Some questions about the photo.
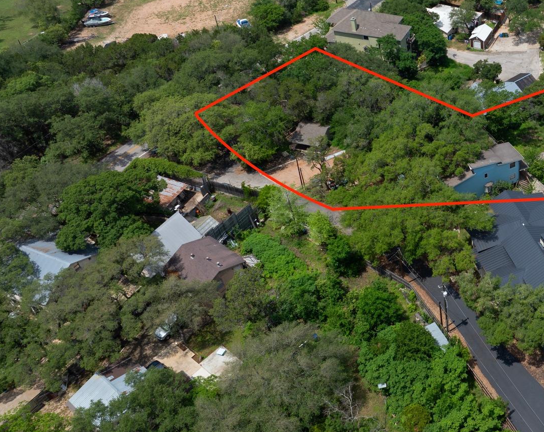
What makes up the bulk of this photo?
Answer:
trees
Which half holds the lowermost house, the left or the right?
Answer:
left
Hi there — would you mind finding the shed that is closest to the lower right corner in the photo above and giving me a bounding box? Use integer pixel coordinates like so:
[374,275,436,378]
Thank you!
[426,322,448,353]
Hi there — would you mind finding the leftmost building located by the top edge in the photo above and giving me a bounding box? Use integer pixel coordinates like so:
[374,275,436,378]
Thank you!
[326,7,416,60]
